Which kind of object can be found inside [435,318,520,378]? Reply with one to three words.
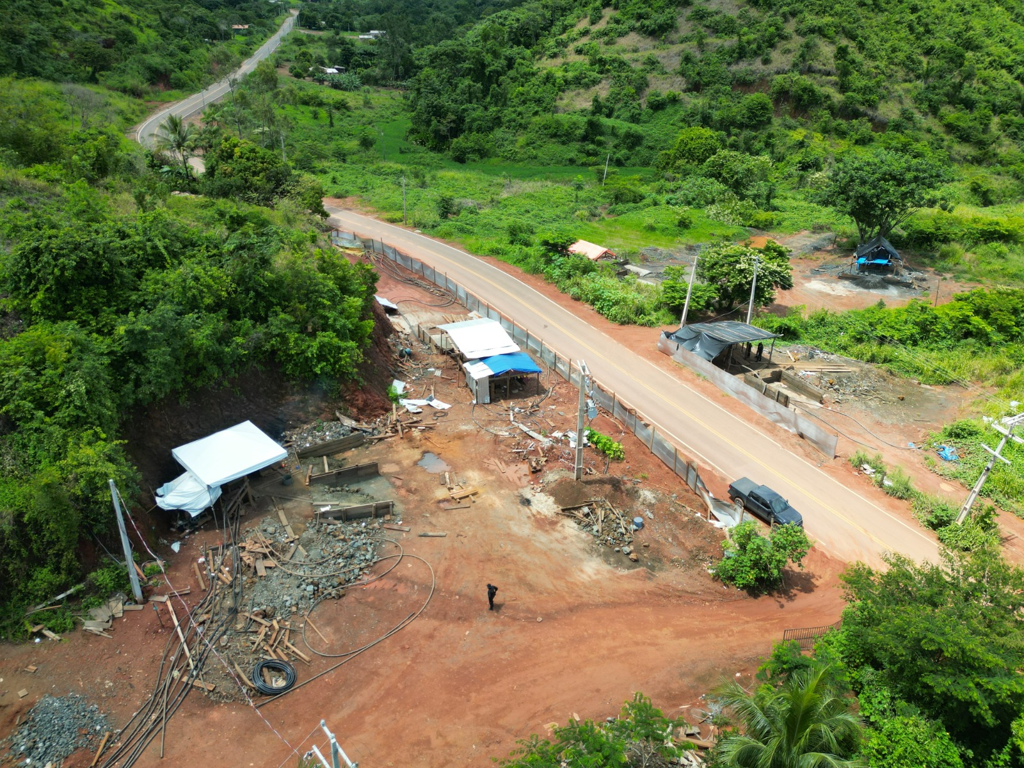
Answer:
shed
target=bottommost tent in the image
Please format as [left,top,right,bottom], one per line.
[171,420,291,516]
